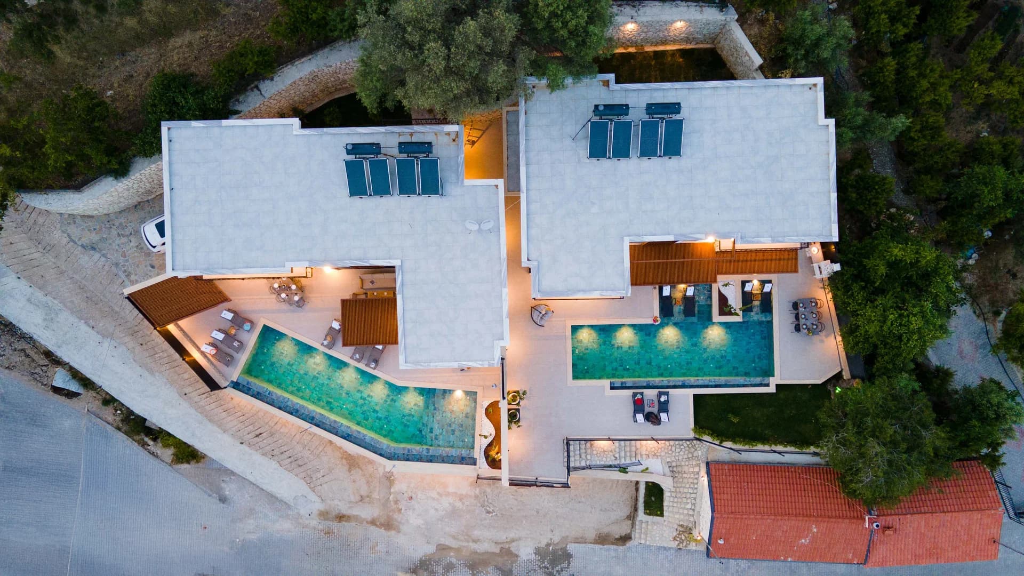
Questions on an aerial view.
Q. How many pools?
2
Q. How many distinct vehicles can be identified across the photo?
1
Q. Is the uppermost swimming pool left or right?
right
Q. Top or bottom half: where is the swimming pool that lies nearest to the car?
bottom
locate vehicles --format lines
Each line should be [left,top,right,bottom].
[133,212,166,253]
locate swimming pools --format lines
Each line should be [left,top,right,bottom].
[566,274,781,393]
[221,318,483,477]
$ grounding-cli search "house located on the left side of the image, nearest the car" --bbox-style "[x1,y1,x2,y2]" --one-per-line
[162,118,510,369]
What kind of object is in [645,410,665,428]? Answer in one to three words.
umbrella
